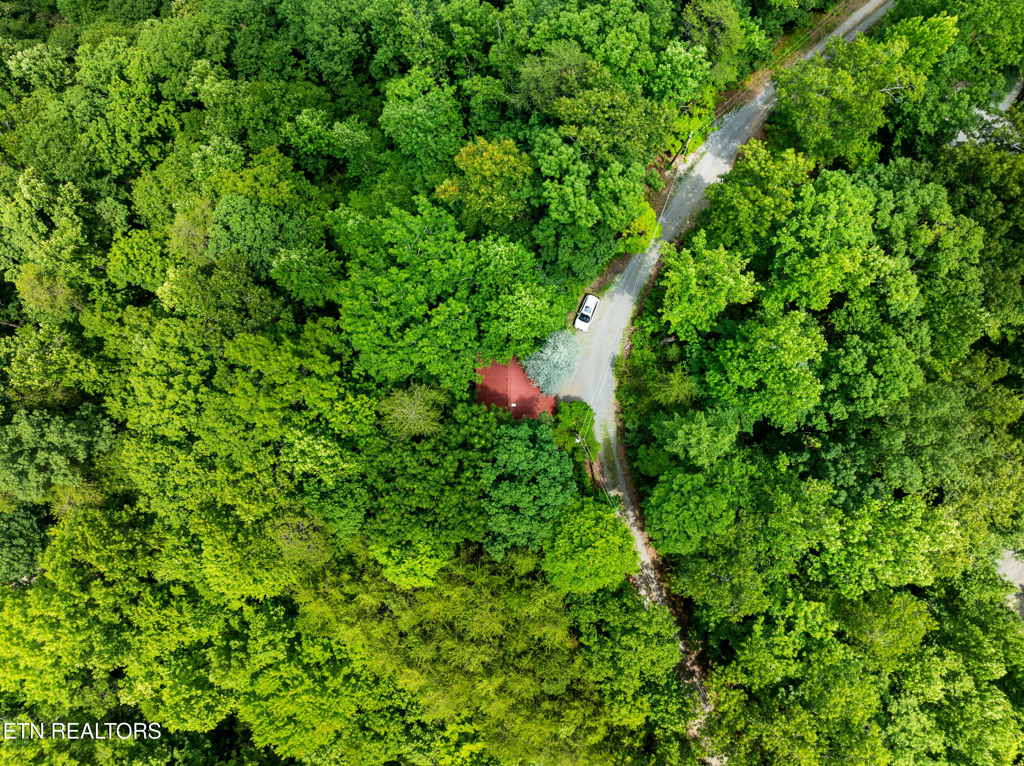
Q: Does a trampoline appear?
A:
No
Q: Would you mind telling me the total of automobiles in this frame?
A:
one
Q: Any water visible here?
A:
No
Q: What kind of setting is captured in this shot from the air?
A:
forest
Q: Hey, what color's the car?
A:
white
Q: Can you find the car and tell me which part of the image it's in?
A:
center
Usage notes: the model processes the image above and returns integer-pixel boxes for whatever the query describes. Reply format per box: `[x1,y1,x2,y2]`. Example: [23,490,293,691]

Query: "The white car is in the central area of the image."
[575,294,600,332]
